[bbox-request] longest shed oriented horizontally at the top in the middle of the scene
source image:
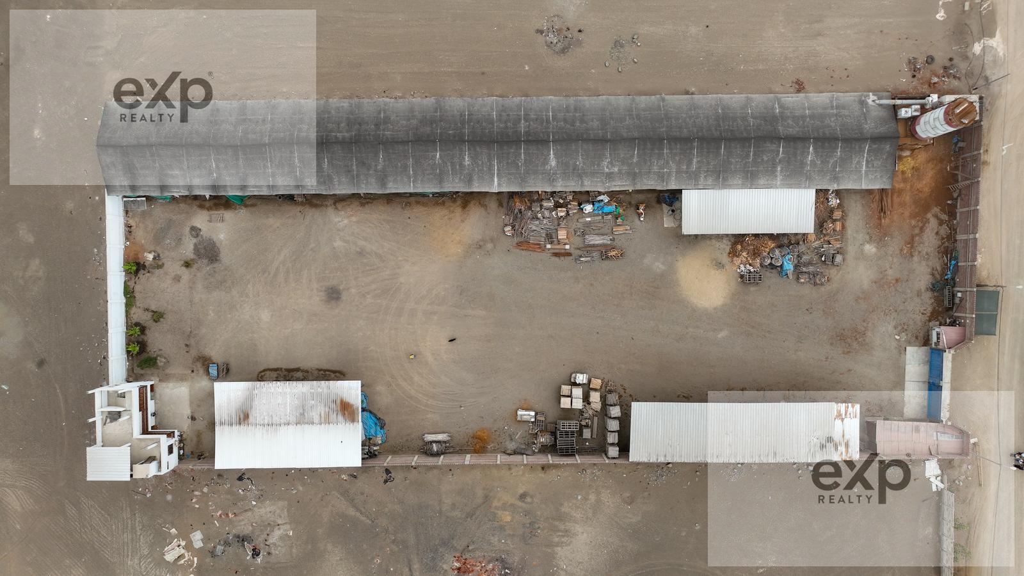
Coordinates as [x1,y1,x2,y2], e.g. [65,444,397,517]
[96,92,900,194]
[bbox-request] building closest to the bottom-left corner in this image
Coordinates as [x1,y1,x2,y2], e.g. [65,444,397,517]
[86,377,189,481]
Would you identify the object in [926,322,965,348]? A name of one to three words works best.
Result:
shed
